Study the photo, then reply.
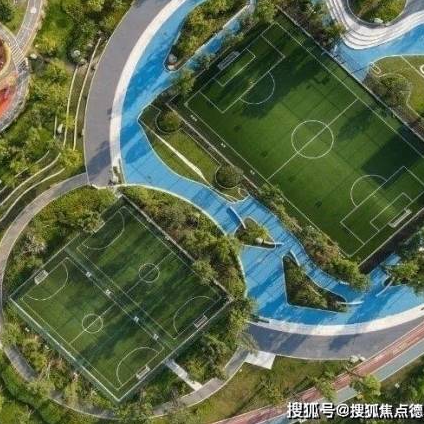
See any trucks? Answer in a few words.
No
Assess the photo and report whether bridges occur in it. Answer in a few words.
No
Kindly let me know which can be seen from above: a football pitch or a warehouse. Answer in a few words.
football pitch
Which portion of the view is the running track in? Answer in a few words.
bottom right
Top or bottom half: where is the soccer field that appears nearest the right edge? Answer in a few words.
top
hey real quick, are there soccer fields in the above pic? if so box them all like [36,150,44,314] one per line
[71,195,230,347]
[168,5,424,269]
[11,244,178,399]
